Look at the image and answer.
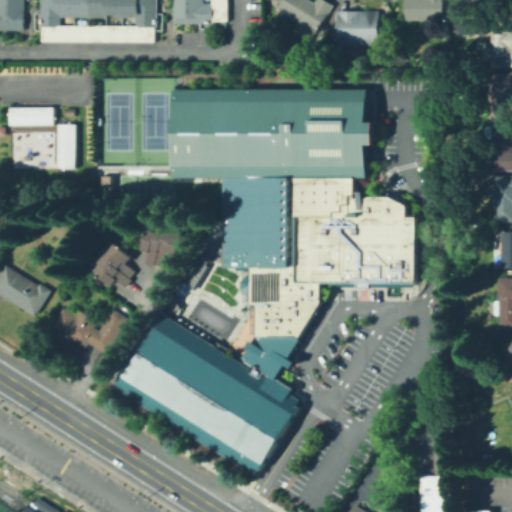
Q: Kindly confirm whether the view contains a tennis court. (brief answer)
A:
Yes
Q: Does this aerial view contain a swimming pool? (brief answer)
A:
Yes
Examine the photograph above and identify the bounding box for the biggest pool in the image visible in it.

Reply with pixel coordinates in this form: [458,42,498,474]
[187,299,242,342]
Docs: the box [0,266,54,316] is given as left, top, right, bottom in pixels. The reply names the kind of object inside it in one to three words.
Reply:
house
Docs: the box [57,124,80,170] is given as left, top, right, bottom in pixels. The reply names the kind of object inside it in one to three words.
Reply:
building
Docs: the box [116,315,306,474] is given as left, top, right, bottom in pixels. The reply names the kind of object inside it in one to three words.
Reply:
building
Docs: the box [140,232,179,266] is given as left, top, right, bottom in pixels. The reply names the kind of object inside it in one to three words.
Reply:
house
